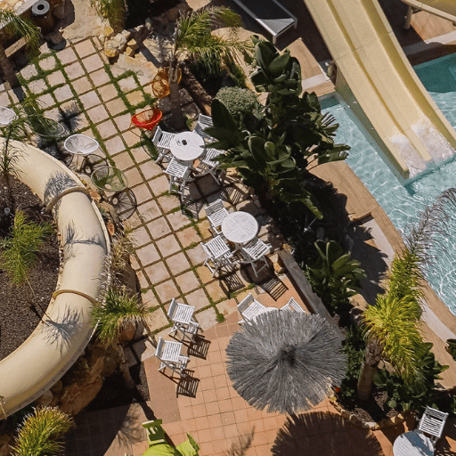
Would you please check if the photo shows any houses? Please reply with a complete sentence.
No, the scene contains no house.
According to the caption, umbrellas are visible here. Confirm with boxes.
[223,309,350,428]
